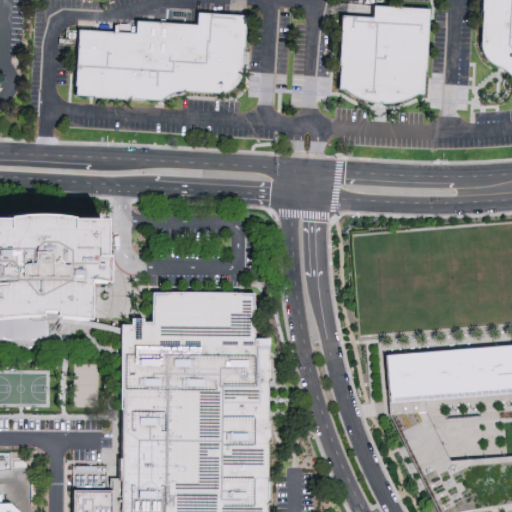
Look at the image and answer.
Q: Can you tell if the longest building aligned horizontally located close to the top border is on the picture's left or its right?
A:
left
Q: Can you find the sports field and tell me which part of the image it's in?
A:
right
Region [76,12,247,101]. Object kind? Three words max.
building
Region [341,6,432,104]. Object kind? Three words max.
building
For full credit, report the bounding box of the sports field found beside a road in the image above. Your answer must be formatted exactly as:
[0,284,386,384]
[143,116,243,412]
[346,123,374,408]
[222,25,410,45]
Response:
[353,224,512,336]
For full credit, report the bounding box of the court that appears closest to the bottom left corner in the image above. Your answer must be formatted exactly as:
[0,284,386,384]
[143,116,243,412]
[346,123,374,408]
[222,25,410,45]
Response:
[0,370,50,406]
